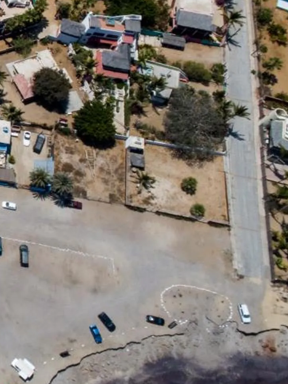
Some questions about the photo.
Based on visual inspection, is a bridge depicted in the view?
No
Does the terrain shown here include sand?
Yes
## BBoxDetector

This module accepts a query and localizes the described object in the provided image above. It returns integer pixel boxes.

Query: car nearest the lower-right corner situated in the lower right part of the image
[235,303,252,324]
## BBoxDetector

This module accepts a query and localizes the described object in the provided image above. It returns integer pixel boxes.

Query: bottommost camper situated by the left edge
[12,357,35,382]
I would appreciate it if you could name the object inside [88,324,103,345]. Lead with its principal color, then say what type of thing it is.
blue vehicle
